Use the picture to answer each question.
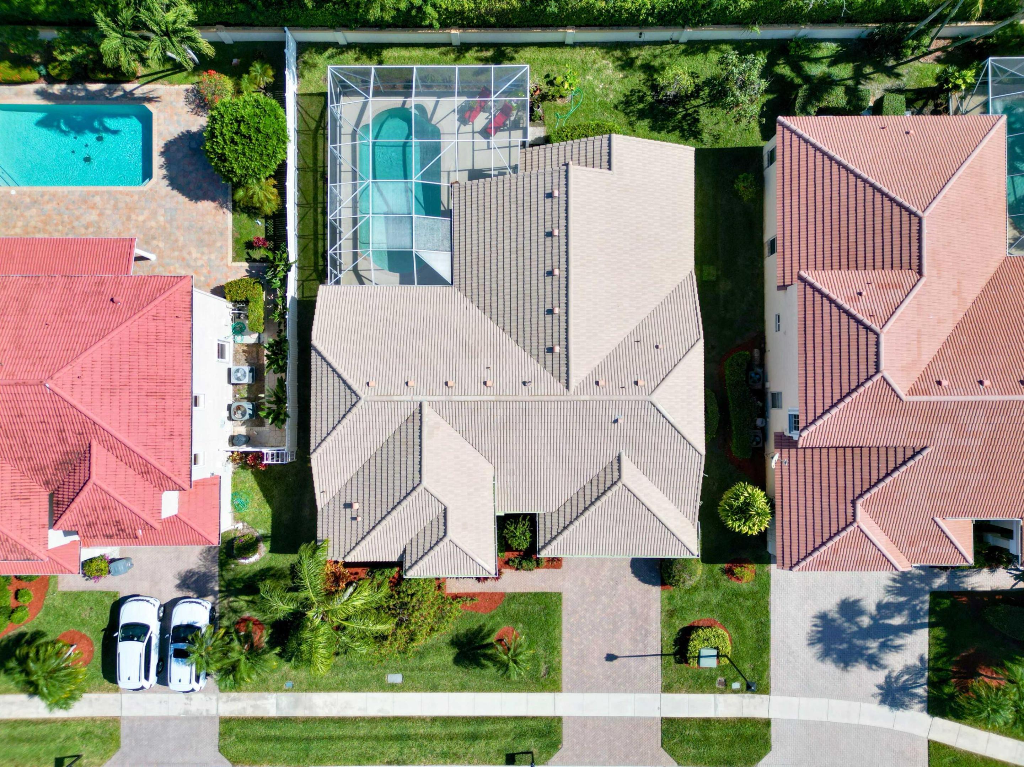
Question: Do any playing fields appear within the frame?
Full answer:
No, I can see no playing field in this picture.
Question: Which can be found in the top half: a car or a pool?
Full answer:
It is a pool that can be seen in the top half.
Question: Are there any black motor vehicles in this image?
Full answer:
No, the frame has no black motor vehicle in it.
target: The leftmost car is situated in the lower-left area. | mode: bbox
[114,594,168,690]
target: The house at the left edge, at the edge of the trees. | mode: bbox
[0,235,247,577]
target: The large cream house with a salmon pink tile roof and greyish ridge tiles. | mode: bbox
[762,112,1024,574]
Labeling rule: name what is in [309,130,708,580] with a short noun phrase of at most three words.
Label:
house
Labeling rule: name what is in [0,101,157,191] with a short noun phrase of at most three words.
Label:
swimming pool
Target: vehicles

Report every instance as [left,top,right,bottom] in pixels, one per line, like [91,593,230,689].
[166,596,218,692]
[114,594,168,690]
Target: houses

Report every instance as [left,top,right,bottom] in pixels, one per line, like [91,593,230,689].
[0,235,247,577]
[309,130,708,580]
[762,112,1024,574]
